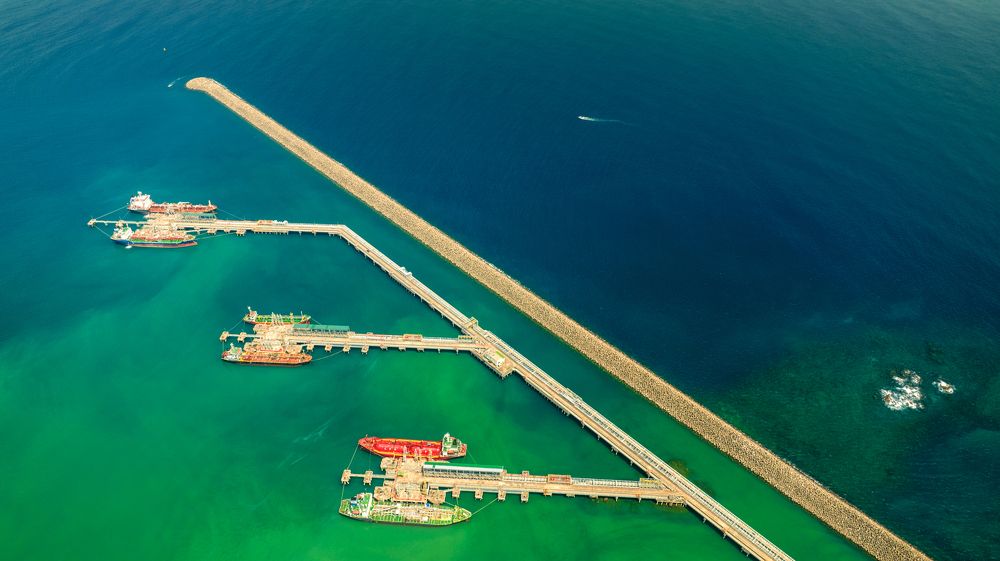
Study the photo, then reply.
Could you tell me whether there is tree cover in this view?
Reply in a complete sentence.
No, tree cover can't be seen anywhere here.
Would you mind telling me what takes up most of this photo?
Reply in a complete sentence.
The scene is dominated by water.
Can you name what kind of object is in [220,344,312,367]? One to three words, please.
ship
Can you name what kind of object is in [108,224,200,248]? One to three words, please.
ship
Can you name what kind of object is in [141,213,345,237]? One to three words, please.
pier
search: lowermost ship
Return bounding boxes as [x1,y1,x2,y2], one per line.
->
[340,500,472,528]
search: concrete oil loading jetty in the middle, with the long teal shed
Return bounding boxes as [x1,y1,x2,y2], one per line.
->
[250,324,476,357]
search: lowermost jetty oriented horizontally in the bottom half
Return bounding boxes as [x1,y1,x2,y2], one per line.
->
[380,459,688,510]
